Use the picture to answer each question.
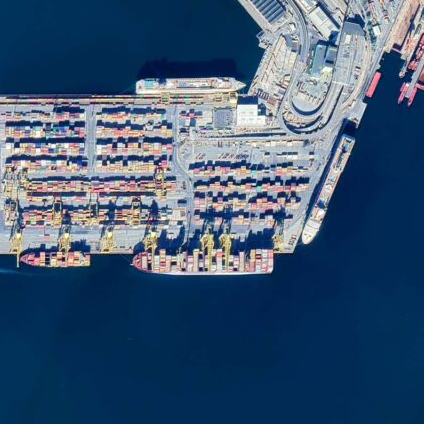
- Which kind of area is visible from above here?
port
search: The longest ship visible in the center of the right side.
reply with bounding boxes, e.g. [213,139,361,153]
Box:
[304,136,352,243]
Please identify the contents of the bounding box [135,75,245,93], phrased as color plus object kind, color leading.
white ship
